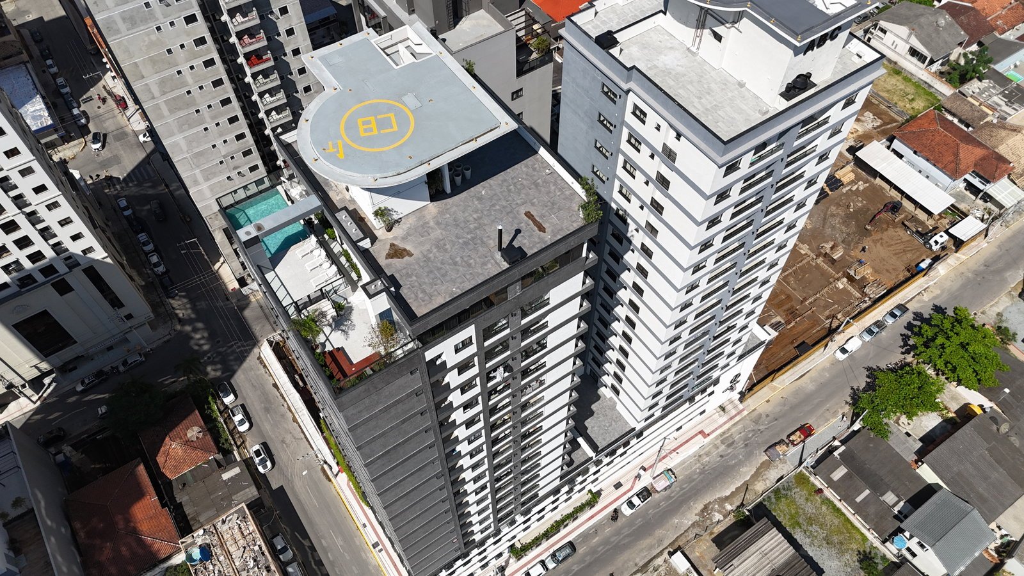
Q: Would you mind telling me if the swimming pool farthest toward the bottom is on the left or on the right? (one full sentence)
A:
The swimming pool farthest toward the bottom appears in the left half of the scene.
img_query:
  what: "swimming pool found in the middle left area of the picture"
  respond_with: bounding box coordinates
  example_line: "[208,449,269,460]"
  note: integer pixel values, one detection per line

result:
[229,192,311,263]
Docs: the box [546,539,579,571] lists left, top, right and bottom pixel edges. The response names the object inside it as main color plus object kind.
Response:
gray car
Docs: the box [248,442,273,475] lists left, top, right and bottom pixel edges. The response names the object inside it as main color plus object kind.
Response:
white car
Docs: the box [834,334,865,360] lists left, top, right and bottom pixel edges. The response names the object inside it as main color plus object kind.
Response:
white vehicle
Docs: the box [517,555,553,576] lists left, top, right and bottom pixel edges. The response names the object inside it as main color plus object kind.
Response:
white car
